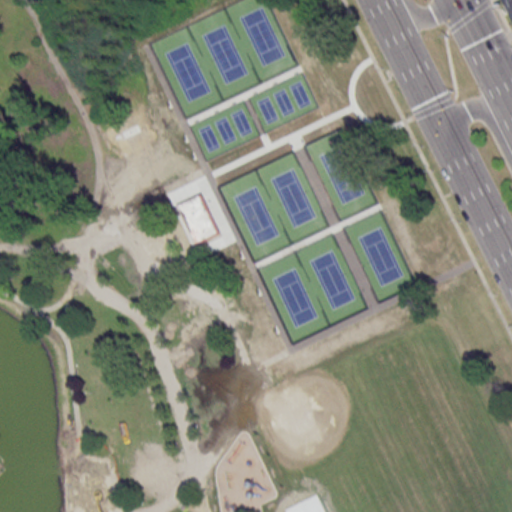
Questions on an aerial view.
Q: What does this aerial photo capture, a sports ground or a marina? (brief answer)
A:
sports ground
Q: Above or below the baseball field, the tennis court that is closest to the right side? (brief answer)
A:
above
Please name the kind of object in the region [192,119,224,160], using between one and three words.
sports court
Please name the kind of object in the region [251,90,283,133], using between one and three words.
sports court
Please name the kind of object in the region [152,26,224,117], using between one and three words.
tennis court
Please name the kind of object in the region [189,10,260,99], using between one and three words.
tennis court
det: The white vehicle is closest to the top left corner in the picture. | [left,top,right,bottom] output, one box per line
[118,126,141,139]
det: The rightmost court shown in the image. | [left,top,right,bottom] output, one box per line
[344,212,410,302]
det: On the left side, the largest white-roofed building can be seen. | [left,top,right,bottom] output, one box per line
[178,194,220,244]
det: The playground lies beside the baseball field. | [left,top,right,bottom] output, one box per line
[216,431,277,512]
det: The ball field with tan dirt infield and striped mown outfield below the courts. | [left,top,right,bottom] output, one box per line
[259,316,512,512]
